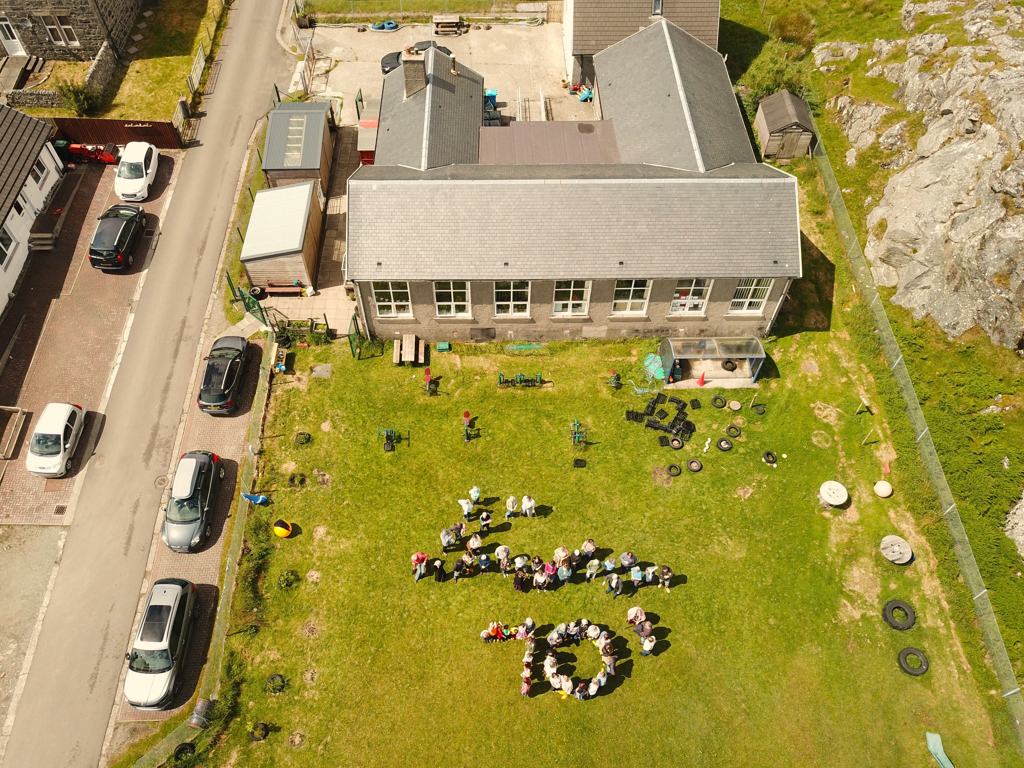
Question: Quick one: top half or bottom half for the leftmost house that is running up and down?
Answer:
top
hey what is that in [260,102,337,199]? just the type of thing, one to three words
shed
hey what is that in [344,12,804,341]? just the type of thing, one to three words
building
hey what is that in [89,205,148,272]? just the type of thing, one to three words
car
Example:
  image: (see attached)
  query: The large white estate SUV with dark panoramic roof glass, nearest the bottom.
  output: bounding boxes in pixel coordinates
[119,579,204,714]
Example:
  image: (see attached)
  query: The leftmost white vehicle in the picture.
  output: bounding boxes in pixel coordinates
[24,401,93,478]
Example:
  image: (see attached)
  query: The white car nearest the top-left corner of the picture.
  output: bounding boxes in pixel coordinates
[112,143,163,199]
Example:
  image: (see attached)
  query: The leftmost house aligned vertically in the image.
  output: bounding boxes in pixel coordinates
[0,101,81,302]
